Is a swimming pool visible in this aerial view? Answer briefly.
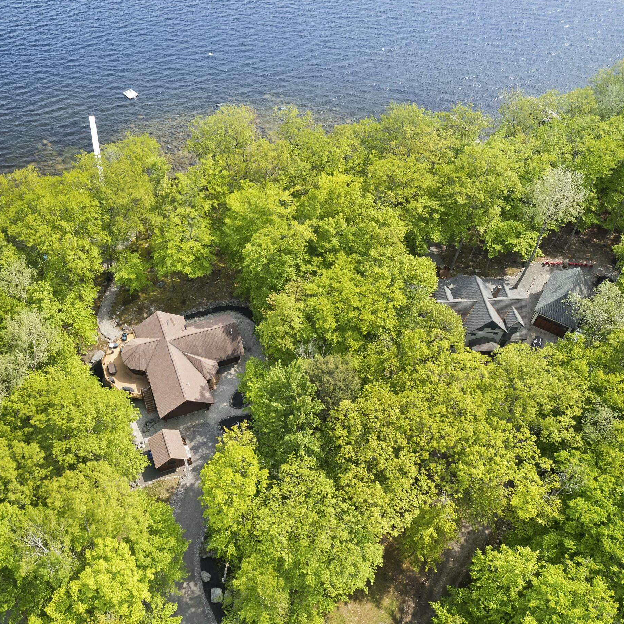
No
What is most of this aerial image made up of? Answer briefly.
trees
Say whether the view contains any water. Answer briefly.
Yes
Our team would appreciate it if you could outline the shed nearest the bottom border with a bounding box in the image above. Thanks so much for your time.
[147,429,192,475]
